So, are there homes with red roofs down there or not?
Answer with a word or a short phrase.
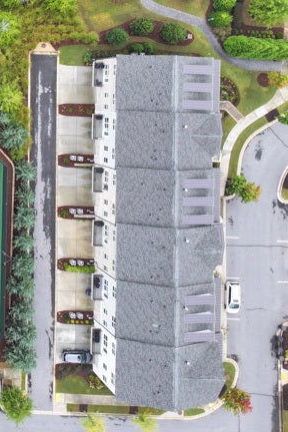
No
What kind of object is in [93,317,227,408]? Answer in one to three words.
house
